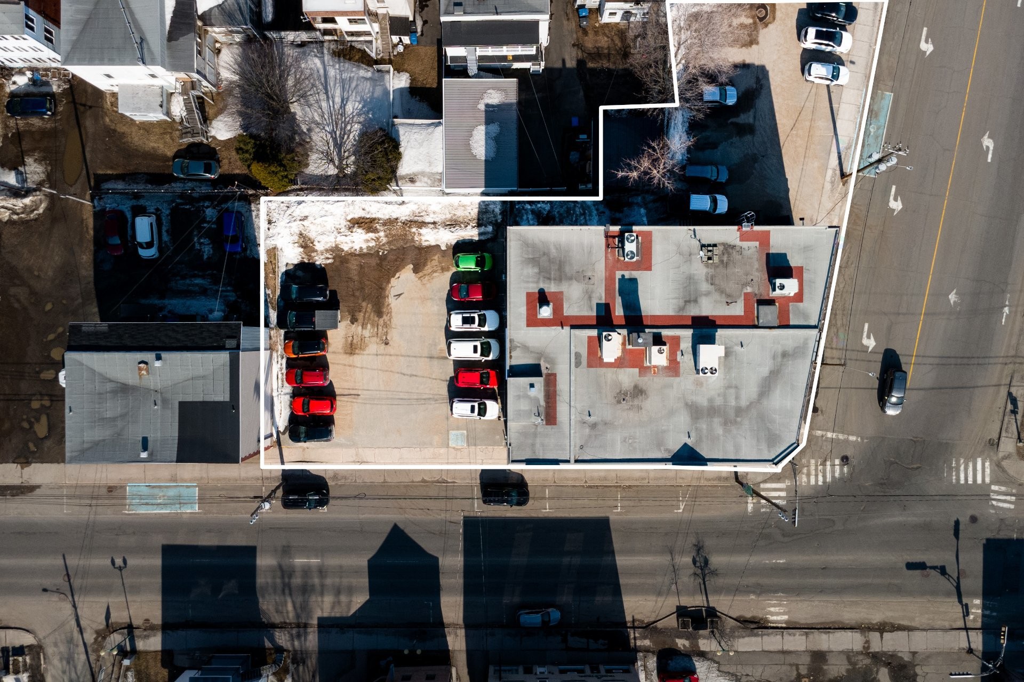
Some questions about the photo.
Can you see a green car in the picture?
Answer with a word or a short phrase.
Yes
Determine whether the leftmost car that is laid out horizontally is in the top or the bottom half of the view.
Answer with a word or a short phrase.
top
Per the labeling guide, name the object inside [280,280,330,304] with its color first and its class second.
black car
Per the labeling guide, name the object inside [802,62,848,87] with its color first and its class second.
white car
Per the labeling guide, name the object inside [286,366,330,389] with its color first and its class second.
red car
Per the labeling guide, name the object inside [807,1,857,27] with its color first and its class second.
black car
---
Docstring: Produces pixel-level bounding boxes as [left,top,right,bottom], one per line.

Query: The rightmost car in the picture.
[878,368,905,416]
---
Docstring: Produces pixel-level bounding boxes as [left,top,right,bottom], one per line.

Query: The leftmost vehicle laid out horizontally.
[7,95,56,119]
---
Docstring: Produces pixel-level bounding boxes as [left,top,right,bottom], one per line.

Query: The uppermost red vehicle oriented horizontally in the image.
[451,280,497,303]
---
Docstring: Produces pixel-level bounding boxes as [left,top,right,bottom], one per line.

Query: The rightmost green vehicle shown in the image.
[453,251,493,273]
